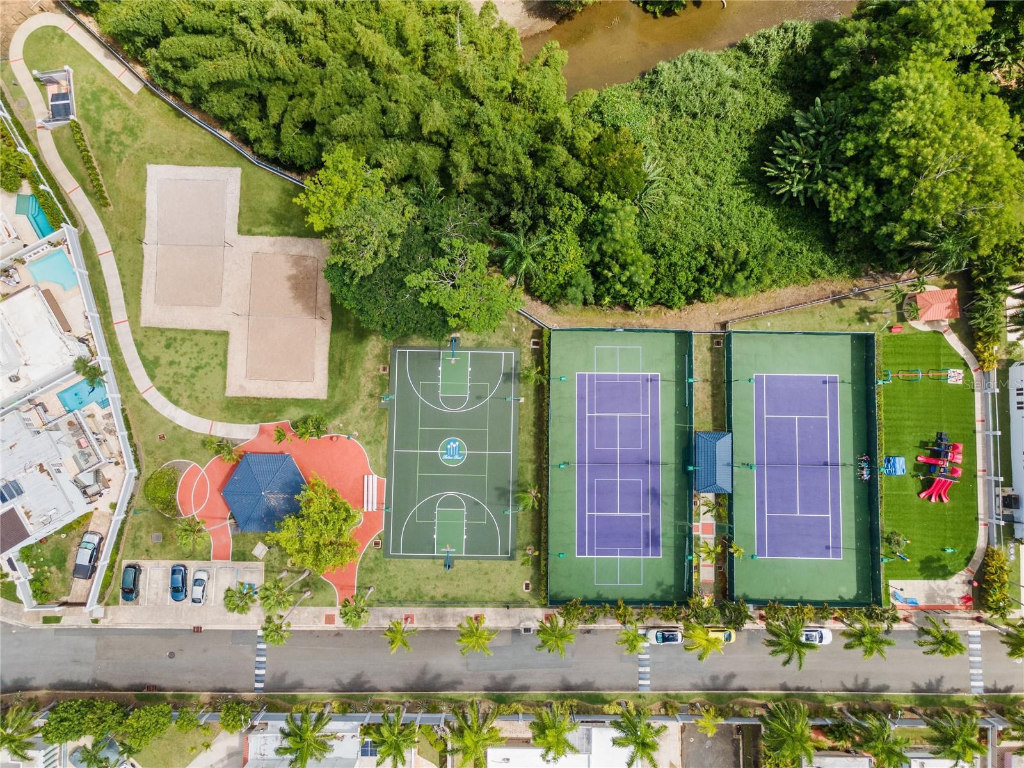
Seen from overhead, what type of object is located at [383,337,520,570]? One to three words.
basketball court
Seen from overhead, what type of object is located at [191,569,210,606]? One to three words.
car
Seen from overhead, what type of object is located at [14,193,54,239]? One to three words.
swimming pool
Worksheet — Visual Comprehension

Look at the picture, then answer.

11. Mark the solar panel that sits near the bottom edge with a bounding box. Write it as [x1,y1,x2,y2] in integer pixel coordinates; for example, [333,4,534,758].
[361,737,377,756]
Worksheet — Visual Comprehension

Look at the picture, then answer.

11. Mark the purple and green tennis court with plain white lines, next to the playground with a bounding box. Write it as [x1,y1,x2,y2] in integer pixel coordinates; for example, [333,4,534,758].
[725,334,872,602]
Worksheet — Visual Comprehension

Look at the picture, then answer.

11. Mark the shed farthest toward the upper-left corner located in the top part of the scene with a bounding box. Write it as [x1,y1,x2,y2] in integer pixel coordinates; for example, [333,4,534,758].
[36,63,77,127]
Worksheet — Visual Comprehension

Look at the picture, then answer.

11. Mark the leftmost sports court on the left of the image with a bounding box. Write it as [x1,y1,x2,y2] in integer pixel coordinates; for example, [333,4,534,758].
[141,164,241,329]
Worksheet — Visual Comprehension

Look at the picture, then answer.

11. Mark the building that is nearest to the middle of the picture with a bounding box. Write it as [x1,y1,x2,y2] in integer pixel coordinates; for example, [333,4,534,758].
[692,432,732,494]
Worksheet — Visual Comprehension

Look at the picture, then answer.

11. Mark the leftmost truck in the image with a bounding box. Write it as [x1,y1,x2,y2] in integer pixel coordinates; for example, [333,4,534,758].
[72,532,101,579]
